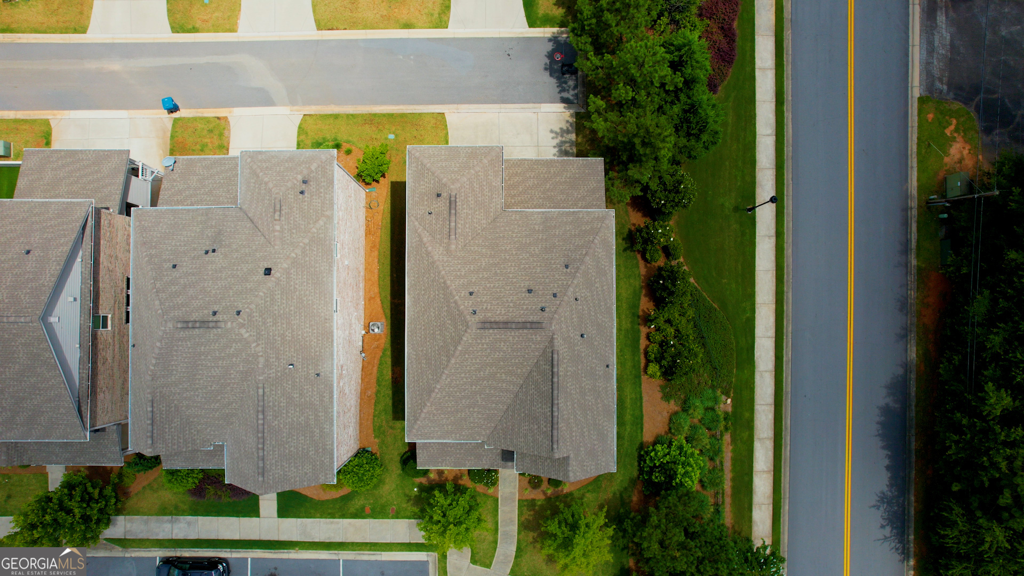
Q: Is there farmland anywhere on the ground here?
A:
No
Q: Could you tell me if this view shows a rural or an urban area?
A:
urban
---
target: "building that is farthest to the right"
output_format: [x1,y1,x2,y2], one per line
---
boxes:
[405,143,618,484]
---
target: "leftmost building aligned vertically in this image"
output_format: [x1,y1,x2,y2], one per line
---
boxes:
[0,148,153,471]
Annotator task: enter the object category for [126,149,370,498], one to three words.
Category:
house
